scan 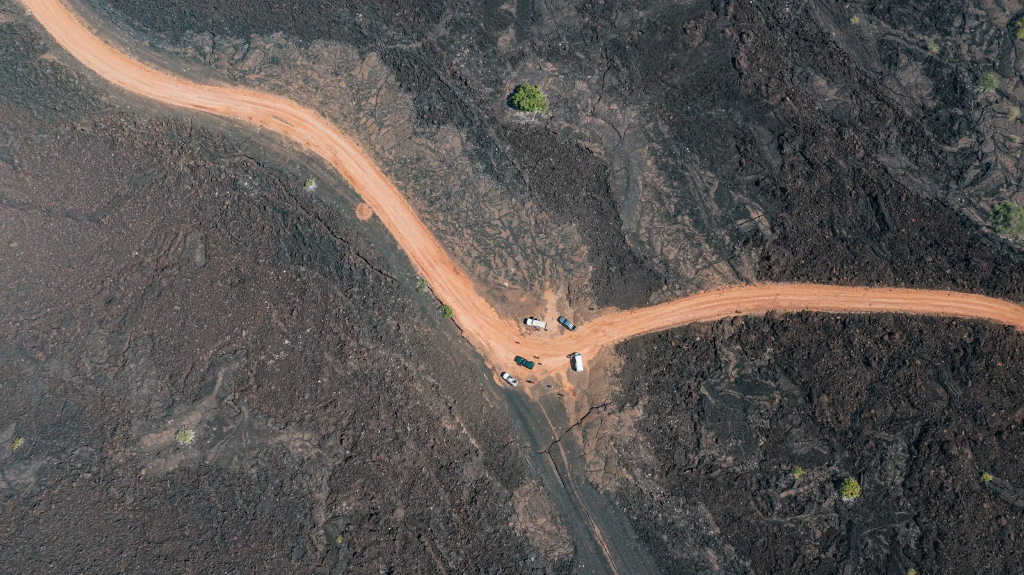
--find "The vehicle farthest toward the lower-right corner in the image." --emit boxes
[570,352,582,372]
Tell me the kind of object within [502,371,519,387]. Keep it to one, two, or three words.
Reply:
vehicle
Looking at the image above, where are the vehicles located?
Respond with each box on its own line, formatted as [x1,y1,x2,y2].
[516,356,535,370]
[502,371,519,387]
[526,319,547,330]
[570,352,582,372]
[558,315,578,332]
